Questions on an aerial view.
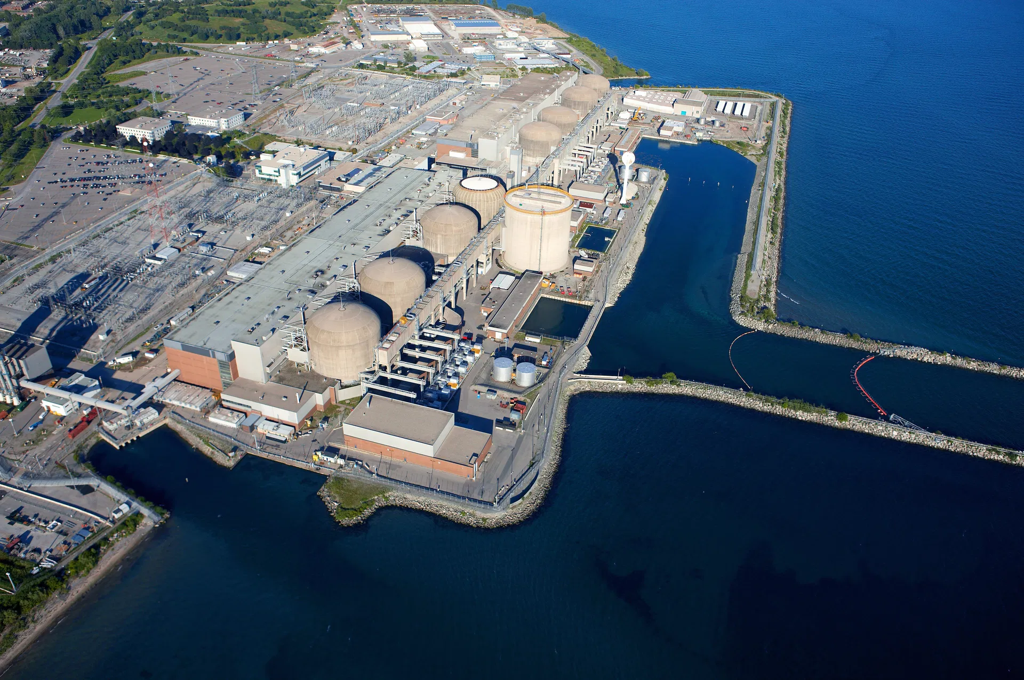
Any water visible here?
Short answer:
Yes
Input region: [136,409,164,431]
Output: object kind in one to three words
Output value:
shed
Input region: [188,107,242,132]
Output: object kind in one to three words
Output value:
building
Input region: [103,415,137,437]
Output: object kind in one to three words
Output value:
shed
